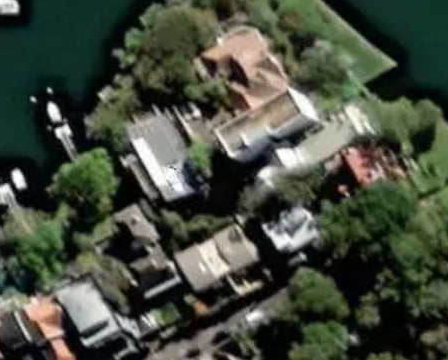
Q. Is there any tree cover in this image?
Yes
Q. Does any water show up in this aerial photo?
Yes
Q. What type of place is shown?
residential area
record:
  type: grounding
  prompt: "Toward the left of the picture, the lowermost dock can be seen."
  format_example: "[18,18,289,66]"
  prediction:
[0,184,25,222]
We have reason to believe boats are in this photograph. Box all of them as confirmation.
[0,0,18,13]
[48,102,62,123]
[12,169,26,191]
